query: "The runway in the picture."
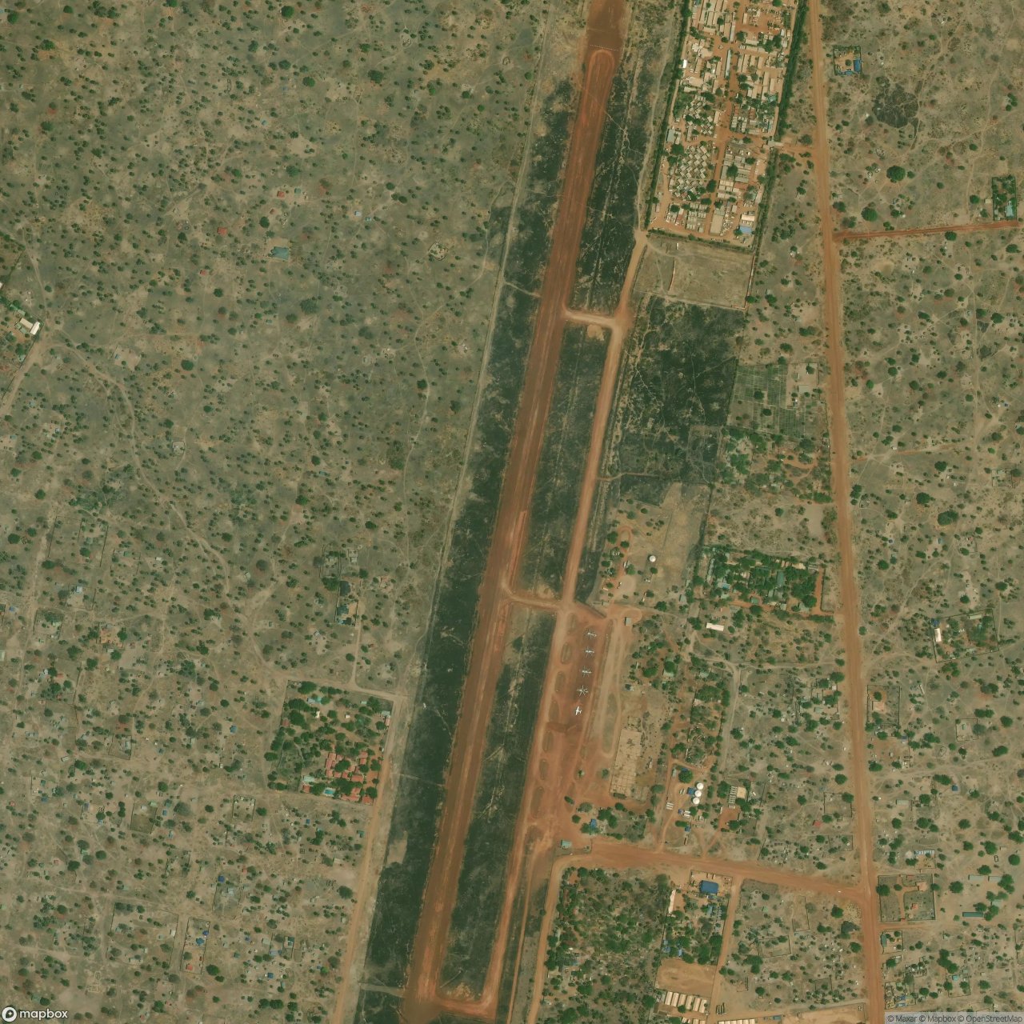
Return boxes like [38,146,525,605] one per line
[401,0,622,1024]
